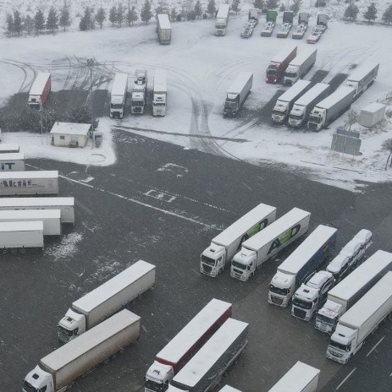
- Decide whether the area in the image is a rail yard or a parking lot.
parking lot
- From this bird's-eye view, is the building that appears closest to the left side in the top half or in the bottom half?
top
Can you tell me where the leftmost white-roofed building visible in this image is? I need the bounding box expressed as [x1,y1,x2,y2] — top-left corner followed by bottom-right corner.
[51,117,91,150]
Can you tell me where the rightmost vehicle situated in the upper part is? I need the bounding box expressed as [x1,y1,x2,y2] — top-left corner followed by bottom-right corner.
[344,62,379,104]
